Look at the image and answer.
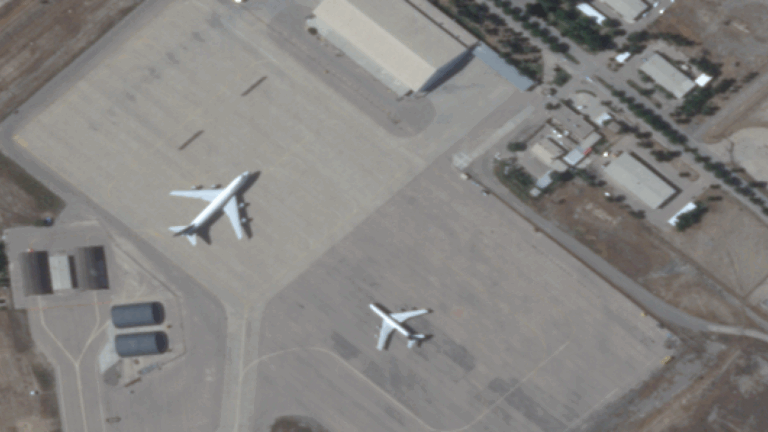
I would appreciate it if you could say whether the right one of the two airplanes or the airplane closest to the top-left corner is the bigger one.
the airplane closest to the top-left corner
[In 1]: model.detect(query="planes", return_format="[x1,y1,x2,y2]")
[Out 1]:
[370,304,428,350]
[169,171,249,246]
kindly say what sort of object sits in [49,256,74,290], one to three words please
building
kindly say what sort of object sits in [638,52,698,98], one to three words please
building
